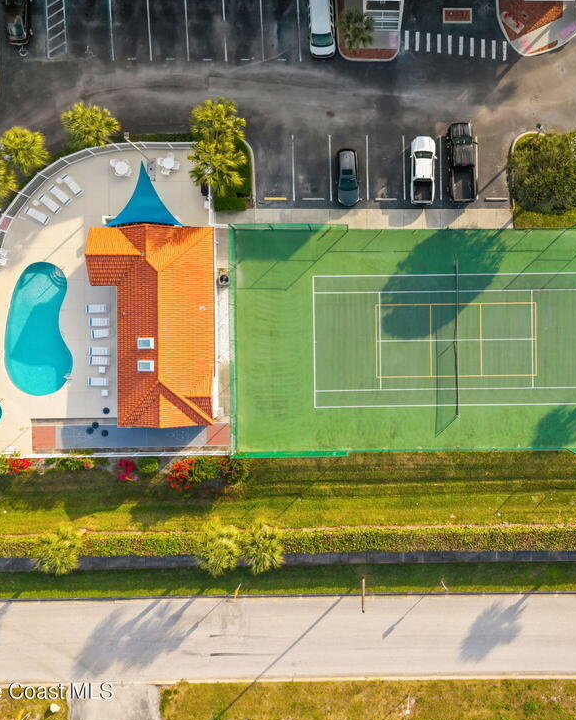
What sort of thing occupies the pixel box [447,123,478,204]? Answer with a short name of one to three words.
truck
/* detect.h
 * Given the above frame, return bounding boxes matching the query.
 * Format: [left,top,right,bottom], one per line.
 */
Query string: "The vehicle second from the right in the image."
[409,136,438,205]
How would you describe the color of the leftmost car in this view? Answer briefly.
black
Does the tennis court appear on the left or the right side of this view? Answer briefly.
right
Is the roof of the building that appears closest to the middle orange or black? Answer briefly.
orange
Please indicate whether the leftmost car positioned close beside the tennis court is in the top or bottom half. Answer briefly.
top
